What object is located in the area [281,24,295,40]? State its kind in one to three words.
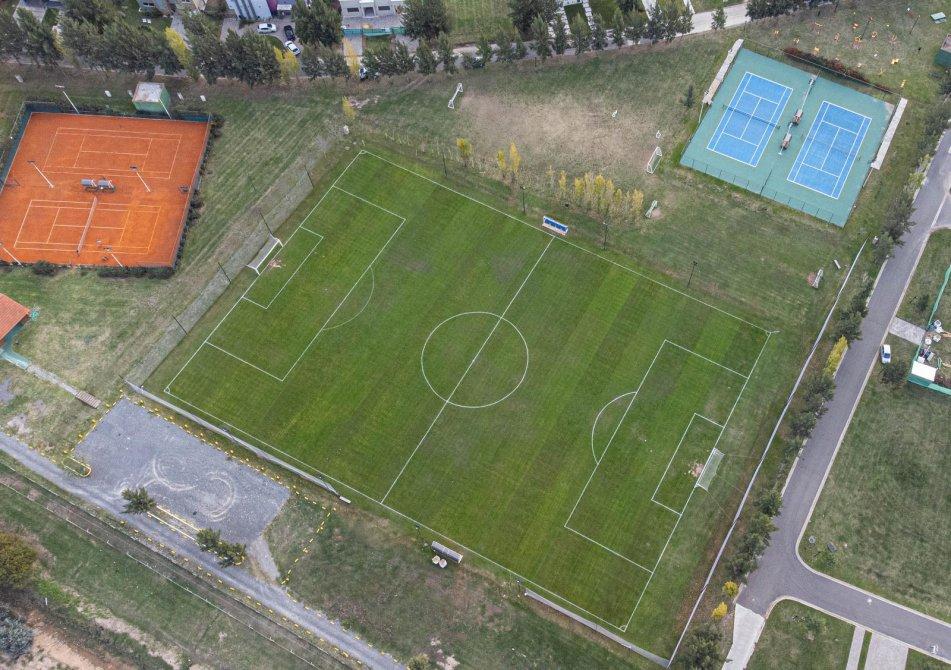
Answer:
vehicle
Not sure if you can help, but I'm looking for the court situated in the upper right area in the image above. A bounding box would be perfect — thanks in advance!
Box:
[681,48,893,227]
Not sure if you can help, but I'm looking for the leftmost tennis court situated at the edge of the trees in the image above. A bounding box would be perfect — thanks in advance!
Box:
[0,112,206,268]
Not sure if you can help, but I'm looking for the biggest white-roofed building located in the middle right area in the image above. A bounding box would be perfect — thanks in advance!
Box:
[905,361,939,382]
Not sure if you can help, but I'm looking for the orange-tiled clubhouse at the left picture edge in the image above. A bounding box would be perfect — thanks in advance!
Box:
[0,292,30,343]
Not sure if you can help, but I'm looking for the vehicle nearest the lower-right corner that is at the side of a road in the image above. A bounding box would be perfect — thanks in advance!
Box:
[881,343,894,362]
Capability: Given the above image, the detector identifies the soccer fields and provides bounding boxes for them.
[124,125,805,670]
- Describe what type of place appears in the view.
sports ground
